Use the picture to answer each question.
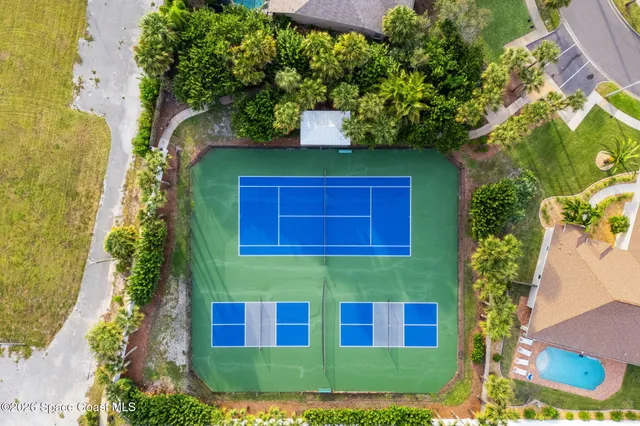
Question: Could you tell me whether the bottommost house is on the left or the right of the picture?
right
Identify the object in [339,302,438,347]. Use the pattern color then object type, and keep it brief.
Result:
blue sports court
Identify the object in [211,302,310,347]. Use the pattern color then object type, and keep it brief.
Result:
blue sports court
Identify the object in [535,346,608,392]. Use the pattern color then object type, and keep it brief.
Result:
blue swimming pool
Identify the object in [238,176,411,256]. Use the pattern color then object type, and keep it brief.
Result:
blue tennis court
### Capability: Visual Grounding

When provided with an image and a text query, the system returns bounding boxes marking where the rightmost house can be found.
[521,153,640,365]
